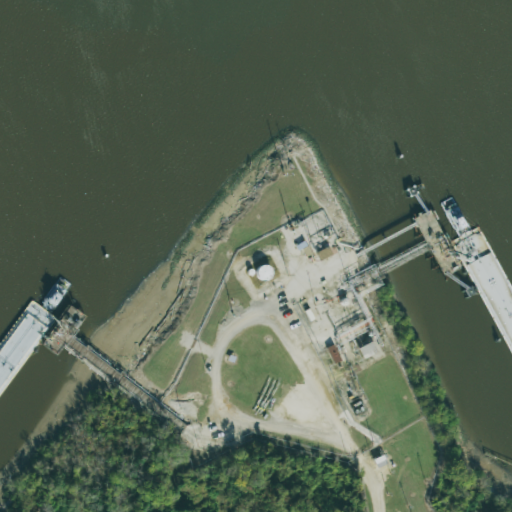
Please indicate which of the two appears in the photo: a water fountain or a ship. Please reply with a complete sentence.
The one in the frame is a ship.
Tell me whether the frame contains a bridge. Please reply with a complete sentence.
Yes, there's a bridge here.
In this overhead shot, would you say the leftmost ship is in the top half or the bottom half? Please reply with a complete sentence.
The leftmost ship sits in the bottom half of the picture.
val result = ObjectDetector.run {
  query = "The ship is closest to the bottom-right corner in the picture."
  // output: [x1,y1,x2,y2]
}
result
[452,228,512,352]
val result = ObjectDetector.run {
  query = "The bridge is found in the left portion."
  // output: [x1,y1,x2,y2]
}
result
[64,333,186,430]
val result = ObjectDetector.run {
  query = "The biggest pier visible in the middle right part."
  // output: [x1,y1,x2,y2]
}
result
[416,208,464,276]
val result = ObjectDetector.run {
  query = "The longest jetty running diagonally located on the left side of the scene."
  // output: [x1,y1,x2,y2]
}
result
[44,306,87,355]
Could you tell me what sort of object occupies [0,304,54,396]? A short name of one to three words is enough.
ship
